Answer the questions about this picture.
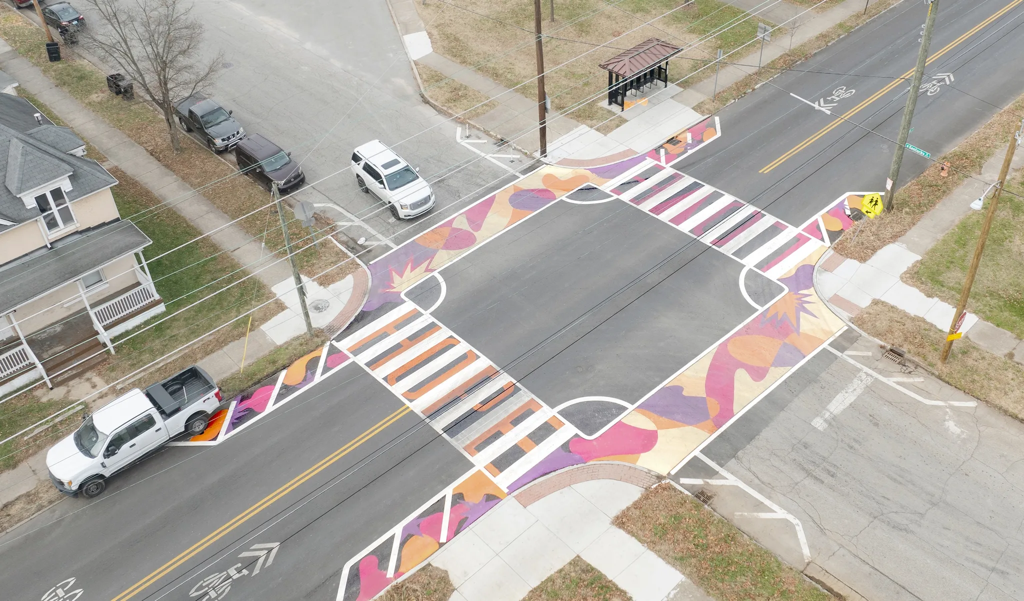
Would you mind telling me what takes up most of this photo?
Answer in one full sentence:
What you mostly see from above here is paved ground.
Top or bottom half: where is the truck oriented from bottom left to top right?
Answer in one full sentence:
The bottom half of the photo is where the truck oriented from bottom left to top right is.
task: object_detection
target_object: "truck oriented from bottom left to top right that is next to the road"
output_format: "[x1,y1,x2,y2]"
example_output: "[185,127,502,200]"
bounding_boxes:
[42,364,227,502]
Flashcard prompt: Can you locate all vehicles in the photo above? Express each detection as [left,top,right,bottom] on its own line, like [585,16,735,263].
[233,131,310,195]
[175,95,251,155]
[352,140,442,221]
[43,0,89,28]
[42,364,227,502]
